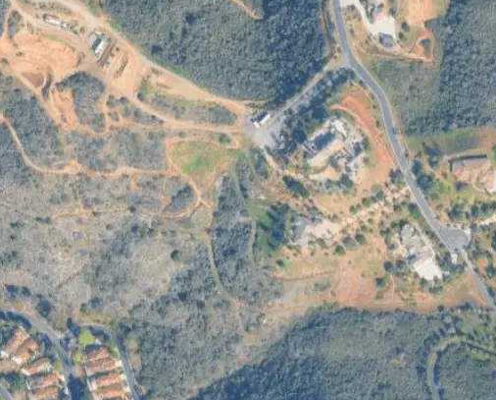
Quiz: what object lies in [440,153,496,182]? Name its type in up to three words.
house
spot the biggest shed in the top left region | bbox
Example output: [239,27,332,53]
[87,31,117,54]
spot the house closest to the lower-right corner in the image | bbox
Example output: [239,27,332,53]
[392,217,429,266]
